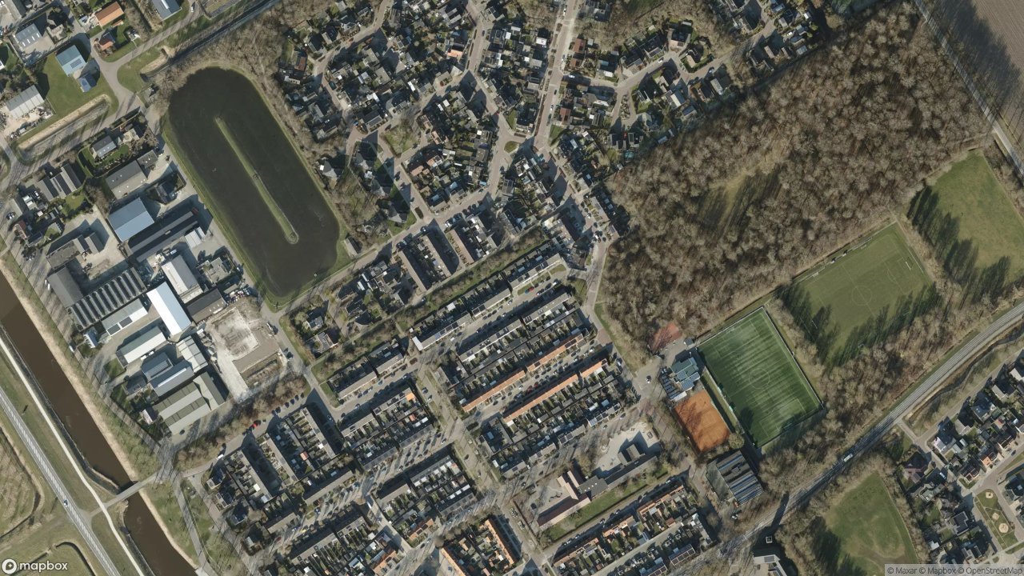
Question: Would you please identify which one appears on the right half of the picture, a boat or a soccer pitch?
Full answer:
There is a soccer pitch on the right half of the picture.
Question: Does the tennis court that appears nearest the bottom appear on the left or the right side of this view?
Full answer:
The tennis court that appears nearest the bottom appears in the right half of the scene.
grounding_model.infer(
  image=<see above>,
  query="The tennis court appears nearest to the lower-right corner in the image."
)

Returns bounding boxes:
[675,391,731,452]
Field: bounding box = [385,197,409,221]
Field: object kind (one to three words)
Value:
house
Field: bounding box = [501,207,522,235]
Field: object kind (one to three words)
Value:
building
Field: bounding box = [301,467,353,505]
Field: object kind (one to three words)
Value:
building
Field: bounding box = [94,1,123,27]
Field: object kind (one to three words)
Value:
barn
